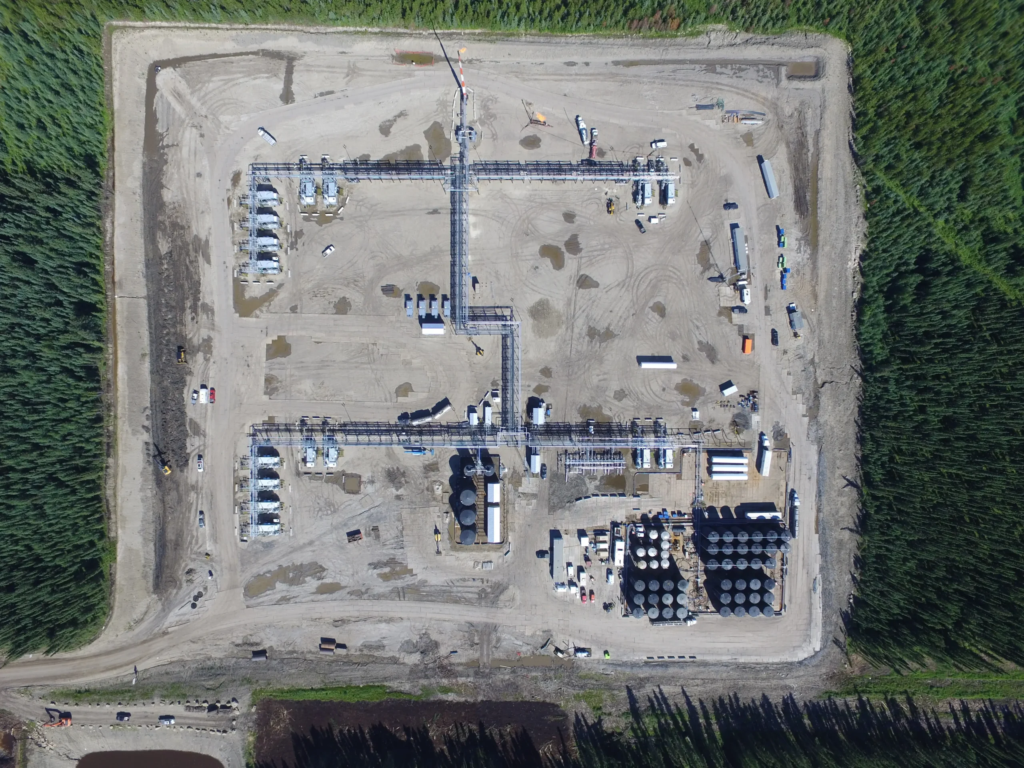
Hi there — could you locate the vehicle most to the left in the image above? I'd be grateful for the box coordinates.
[44,717,73,730]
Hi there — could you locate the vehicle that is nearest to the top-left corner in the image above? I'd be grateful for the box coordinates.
[256,126,277,147]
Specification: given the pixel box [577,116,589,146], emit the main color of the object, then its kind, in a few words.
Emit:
white vehicle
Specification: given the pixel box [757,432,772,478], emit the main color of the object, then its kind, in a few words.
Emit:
white vehicle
